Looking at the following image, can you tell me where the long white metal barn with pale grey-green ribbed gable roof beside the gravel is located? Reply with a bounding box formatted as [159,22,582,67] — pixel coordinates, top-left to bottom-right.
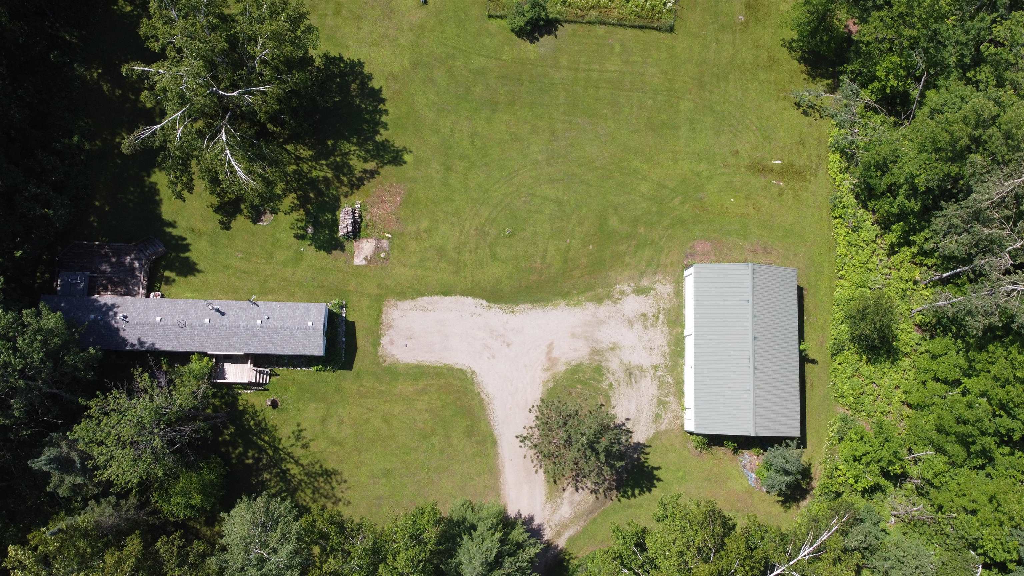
[686,263,801,437]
